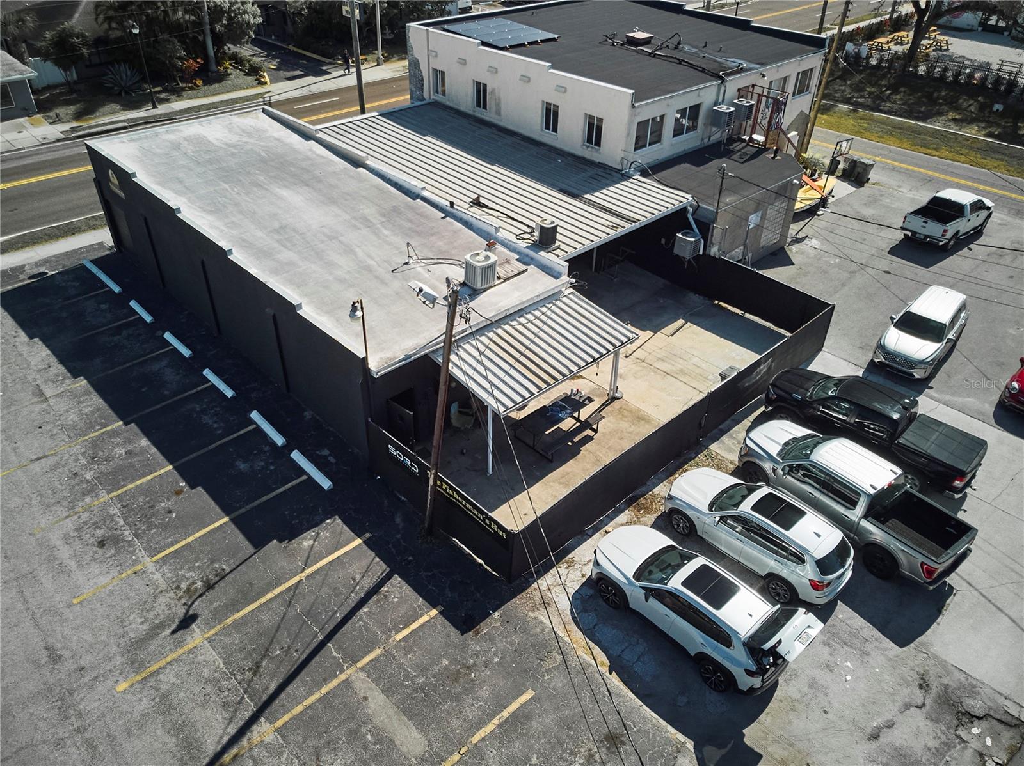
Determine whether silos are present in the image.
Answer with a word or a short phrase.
No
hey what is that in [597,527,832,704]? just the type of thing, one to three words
car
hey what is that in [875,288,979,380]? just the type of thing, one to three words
car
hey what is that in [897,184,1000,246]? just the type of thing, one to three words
truck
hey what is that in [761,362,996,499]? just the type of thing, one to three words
truck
